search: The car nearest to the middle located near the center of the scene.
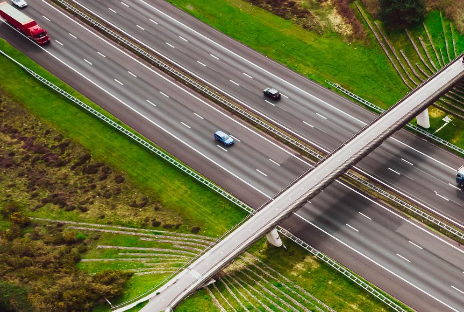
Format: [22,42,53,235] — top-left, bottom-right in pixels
[215,129,235,146]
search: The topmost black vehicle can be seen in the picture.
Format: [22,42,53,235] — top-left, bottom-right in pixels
[263,89,281,101]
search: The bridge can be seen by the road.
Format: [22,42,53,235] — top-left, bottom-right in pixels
[109,50,464,312]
